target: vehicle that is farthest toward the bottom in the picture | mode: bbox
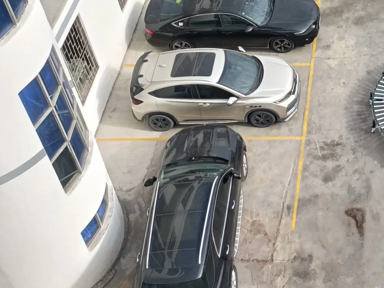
[132,125,249,288]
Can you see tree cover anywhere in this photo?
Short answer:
No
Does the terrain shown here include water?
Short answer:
No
